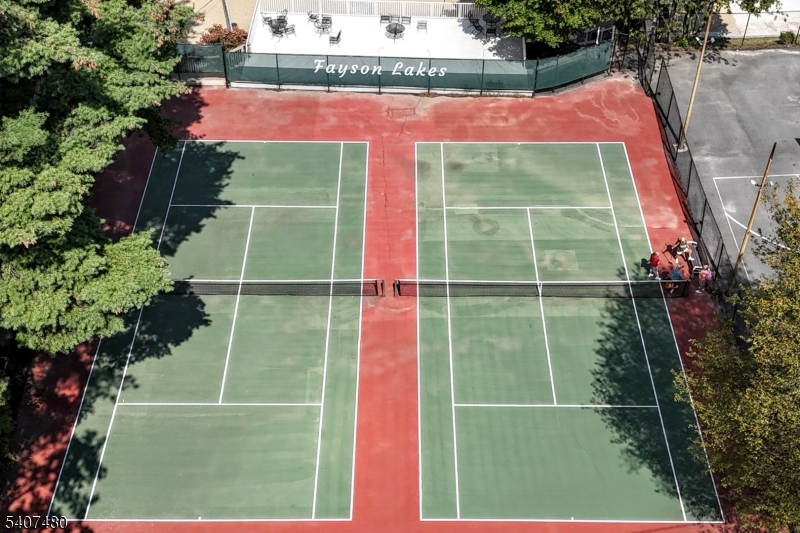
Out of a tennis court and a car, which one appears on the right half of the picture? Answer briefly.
tennis court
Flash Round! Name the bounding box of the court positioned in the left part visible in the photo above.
[47,141,368,520]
